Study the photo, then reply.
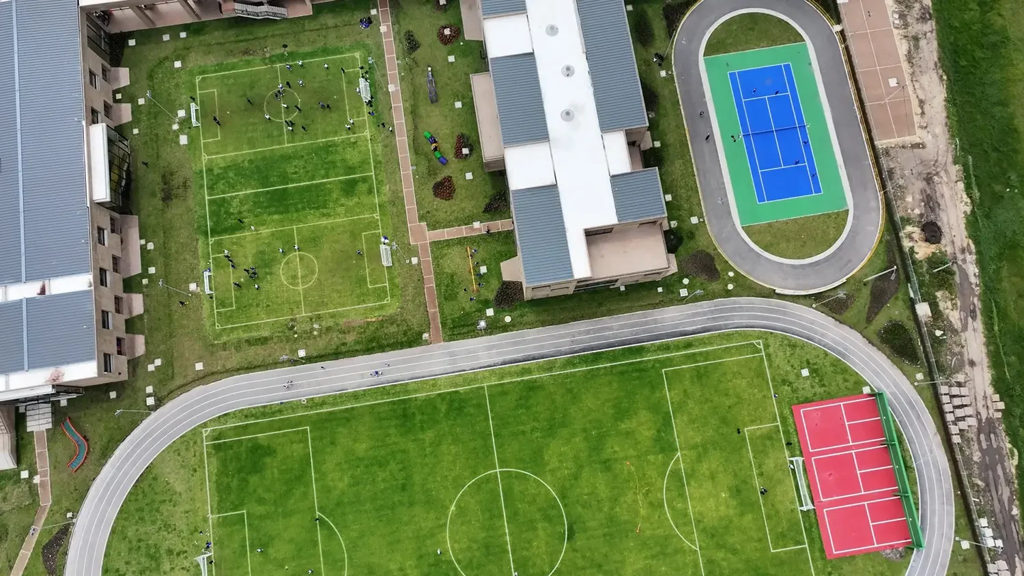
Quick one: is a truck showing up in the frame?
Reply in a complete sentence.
No, there's no truck here.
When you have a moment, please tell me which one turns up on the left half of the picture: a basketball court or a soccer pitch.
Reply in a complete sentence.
Looking on the left half of the picture, you will find a soccer pitch.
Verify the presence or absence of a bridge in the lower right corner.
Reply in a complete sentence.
No, I can find no bridge in the lower right corner.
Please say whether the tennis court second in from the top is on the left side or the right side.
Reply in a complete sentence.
The tennis court second in from the top is on the right side of the image.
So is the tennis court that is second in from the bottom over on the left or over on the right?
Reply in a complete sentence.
The tennis court that is second in from the bottom is on the right side of the image.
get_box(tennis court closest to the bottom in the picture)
[815,494,914,559]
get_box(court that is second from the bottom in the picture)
[804,443,900,506]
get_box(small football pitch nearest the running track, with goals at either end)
[209,214,390,329]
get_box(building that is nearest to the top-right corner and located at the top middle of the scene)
[470,0,670,300]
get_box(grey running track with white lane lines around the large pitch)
[65,295,956,576]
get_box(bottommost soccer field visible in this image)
[201,339,814,576]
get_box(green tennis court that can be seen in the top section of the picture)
[704,41,849,226]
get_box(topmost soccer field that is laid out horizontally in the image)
[196,53,369,158]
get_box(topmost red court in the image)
[792,392,888,456]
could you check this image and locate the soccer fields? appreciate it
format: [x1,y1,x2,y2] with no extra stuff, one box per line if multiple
[201,339,814,576]
[209,214,390,329]
[196,53,369,158]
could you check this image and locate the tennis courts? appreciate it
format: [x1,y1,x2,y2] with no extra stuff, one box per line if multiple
[815,494,914,559]
[804,443,900,506]
[792,392,888,456]
[704,41,849,226]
